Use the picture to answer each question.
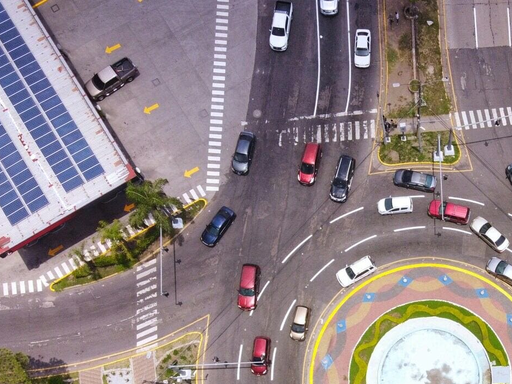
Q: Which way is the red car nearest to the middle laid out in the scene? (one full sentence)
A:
In this picture, the red car nearest to the middle is oriented vertically.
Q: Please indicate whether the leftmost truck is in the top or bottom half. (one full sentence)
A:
The leftmost truck sits in the top half of the picture.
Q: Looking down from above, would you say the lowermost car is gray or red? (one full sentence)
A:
The lowermost car is red.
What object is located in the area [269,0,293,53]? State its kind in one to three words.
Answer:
truck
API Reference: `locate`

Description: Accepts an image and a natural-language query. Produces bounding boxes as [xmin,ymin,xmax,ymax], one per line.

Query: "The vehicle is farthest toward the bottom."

[249,336,272,376]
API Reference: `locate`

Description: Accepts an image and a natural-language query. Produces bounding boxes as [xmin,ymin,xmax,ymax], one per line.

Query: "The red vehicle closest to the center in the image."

[298,142,322,185]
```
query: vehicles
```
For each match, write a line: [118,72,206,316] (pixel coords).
[378,194,413,216]
[394,167,437,193]
[330,154,356,202]
[230,131,256,175]
[198,204,239,247]
[298,142,322,185]
[352,28,372,69]
[485,256,512,286]
[84,55,143,99]
[469,215,512,254]
[288,305,312,342]
[235,263,262,311]
[249,336,272,376]
[269,0,293,53]
[319,0,339,16]
[336,255,377,286]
